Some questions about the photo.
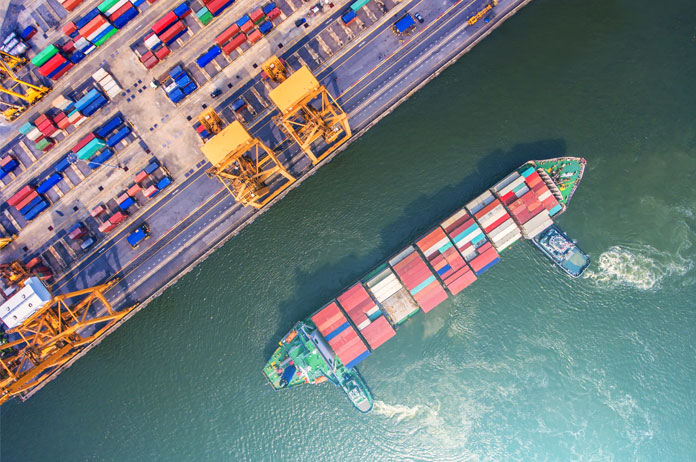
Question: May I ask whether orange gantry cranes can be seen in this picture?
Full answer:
Yes, an orange gantry crane appears in the view.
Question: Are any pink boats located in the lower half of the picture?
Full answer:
No, no pink boat appears in the lower half of the picture.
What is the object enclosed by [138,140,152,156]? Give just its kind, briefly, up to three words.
vehicle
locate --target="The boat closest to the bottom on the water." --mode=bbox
[336,362,376,416]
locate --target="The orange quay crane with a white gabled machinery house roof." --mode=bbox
[0,272,139,399]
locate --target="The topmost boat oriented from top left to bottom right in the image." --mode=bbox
[531,226,591,282]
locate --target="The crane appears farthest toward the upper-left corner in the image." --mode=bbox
[0,51,47,105]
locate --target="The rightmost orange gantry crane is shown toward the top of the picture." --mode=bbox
[268,56,364,174]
